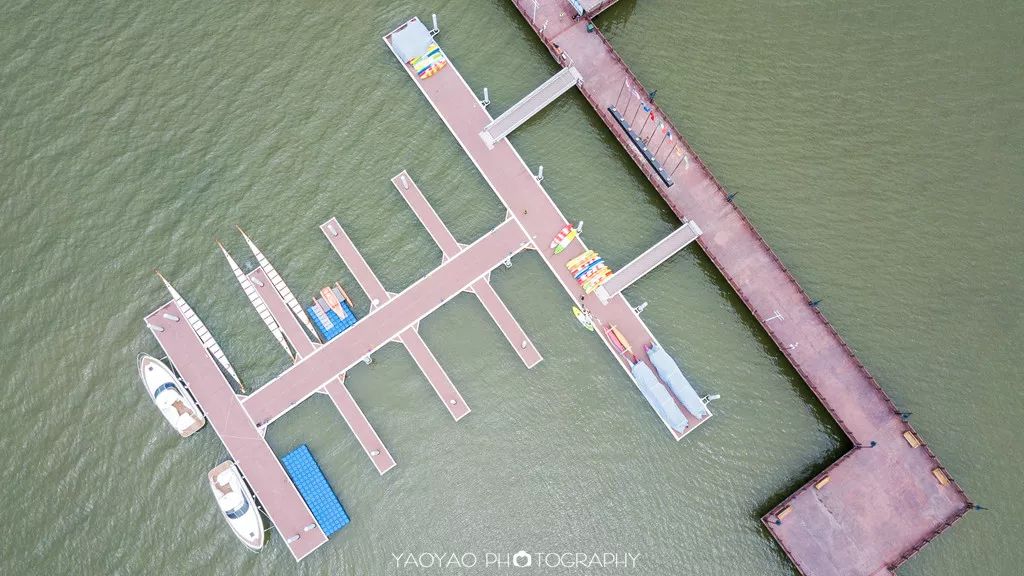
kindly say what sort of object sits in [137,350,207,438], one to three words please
boat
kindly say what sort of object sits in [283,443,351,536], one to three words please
pier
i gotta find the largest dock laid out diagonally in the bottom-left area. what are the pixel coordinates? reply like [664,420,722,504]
[145,301,329,561]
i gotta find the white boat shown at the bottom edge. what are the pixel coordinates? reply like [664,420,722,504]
[209,459,263,554]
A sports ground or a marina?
marina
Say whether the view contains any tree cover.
No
